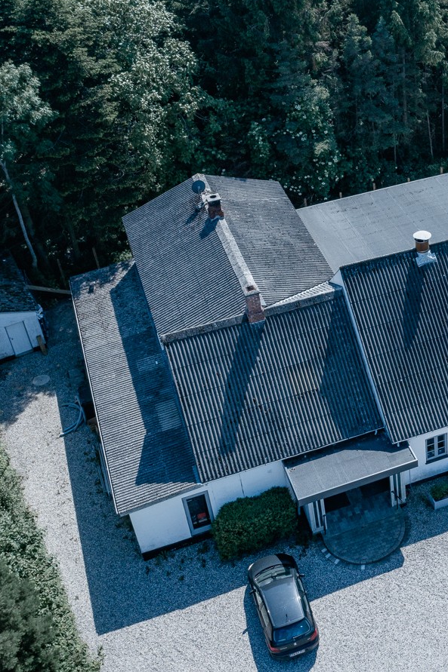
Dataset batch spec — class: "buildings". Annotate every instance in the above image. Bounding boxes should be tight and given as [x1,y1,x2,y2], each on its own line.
[66,171,448,558]
[0,246,47,357]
